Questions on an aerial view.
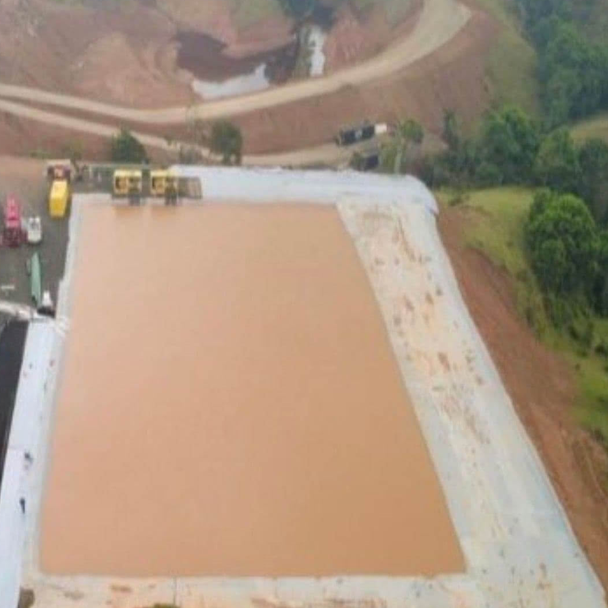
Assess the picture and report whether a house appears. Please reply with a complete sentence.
No, there appears to be no house in this shot.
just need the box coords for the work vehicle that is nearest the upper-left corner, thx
[46,159,70,180]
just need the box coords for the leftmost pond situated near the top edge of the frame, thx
[176,30,302,99]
